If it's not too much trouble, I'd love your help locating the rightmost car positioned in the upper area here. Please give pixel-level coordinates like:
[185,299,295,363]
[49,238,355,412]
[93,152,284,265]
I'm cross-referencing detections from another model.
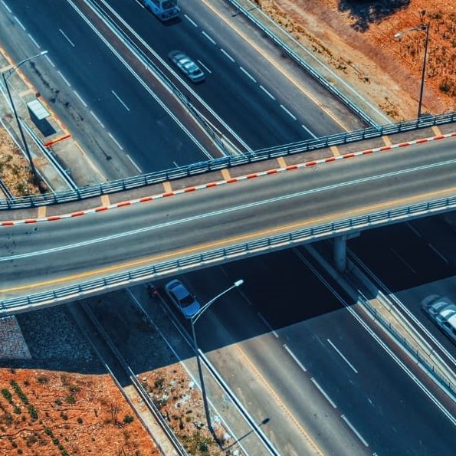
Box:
[171,52,204,80]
